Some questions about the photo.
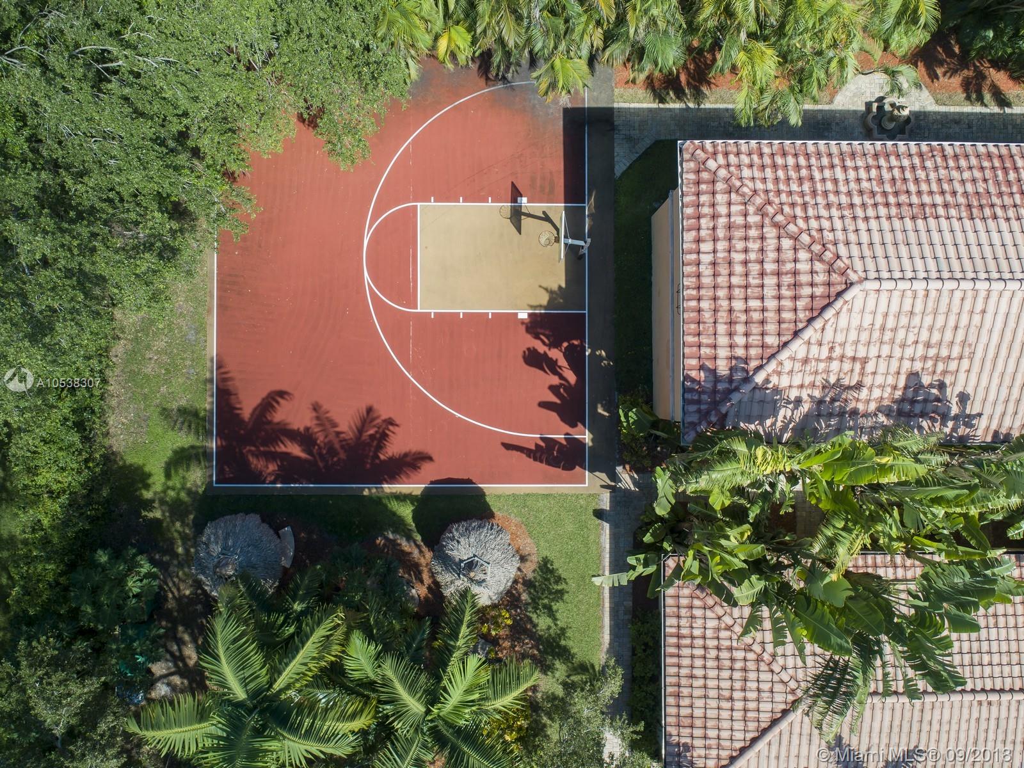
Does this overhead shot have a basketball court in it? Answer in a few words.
Yes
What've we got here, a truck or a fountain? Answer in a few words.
fountain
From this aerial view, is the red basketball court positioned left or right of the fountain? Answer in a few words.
left of it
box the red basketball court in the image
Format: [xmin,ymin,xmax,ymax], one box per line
[206,53,615,494]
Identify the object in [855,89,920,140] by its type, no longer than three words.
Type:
fountain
